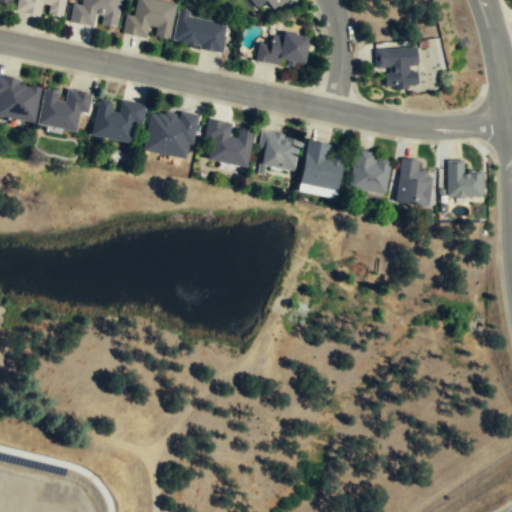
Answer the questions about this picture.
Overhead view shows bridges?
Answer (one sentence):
No, I find no bridge anywhere in the image.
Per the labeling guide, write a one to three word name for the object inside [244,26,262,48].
swimming pool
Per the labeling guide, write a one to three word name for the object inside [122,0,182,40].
house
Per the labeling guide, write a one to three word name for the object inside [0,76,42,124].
house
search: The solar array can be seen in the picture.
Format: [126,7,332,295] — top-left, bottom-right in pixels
[0,454,68,475]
